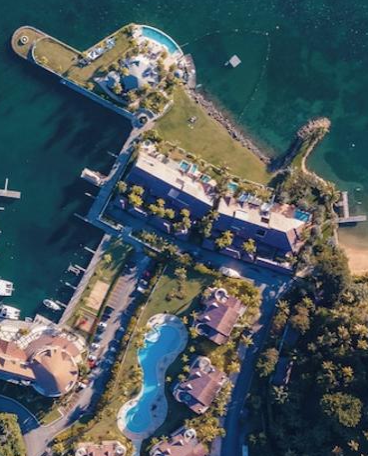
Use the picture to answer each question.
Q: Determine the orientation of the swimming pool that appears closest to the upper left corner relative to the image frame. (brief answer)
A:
at an angle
